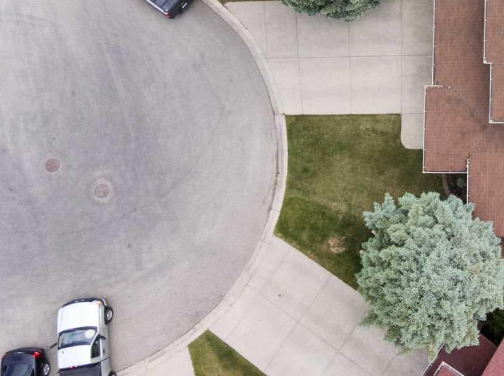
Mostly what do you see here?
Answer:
paved ground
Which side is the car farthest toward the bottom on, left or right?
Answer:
left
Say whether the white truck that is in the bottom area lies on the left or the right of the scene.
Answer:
left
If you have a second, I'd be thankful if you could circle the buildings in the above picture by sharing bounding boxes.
[421,312,504,376]
[422,0,504,237]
